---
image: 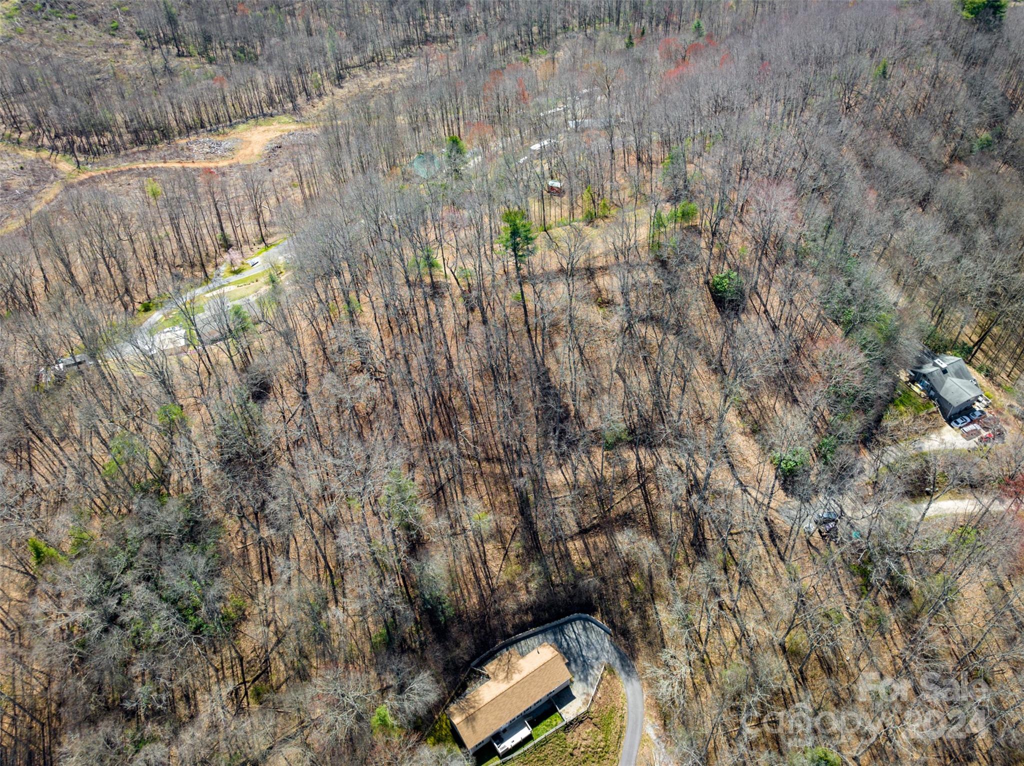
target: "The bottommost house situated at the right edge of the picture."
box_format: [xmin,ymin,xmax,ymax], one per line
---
[891,352,984,421]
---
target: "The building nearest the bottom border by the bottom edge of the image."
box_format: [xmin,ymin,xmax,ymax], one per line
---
[446,643,572,753]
